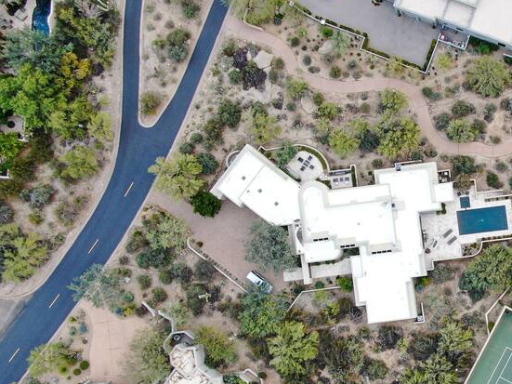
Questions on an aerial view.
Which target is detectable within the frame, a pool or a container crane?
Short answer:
pool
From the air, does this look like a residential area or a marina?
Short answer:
residential area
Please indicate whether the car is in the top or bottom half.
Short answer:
bottom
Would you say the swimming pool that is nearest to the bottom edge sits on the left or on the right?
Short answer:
right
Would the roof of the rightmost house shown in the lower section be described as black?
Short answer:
No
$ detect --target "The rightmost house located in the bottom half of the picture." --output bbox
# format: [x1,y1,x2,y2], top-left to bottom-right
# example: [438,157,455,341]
[210,144,455,324]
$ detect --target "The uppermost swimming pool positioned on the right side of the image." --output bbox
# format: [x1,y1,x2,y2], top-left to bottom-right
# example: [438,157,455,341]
[459,194,472,211]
